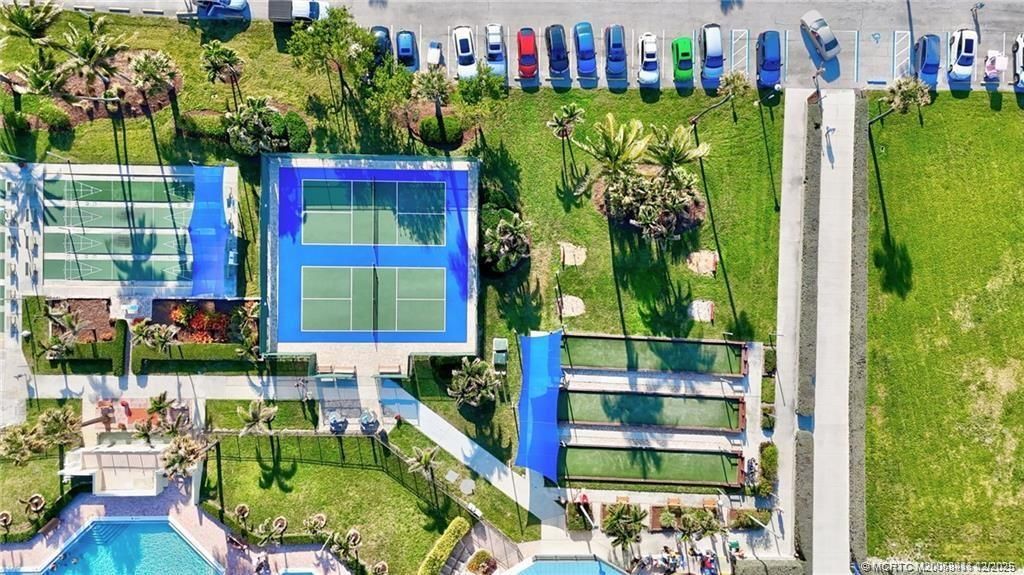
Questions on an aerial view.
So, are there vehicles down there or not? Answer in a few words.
Yes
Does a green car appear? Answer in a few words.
Yes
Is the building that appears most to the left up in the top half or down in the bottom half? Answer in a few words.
bottom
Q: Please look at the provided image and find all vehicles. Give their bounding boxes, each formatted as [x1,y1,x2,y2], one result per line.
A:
[452,26,476,79]
[396,28,419,73]
[605,23,629,77]
[516,28,539,79]
[699,24,725,80]
[755,31,782,88]
[1011,33,1024,89]
[573,20,598,75]
[484,24,509,83]
[370,22,393,68]
[913,32,942,87]
[671,38,695,83]
[637,33,661,86]
[802,11,838,63]
[948,27,977,82]
[266,0,332,23]
[545,23,570,76]
[188,0,247,15]
[979,53,1010,82]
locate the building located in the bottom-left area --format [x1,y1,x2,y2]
[56,439,172,497]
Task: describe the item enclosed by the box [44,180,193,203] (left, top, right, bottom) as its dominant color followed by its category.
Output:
green sports court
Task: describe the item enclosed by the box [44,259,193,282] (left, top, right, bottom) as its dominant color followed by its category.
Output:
green sports court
